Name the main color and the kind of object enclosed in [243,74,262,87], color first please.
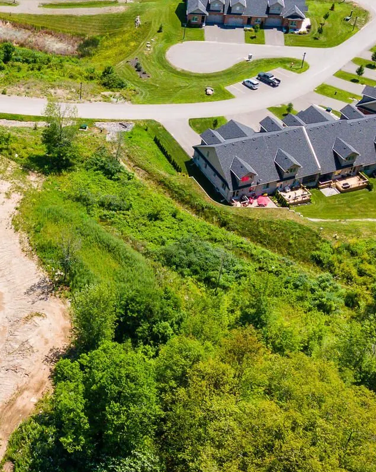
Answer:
white vehicle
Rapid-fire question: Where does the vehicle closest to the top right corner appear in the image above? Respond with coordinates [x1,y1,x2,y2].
[258,69,281,83]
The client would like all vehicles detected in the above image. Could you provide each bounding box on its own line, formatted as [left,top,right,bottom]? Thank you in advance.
[243,74,262,87]
[258,69,281,83]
